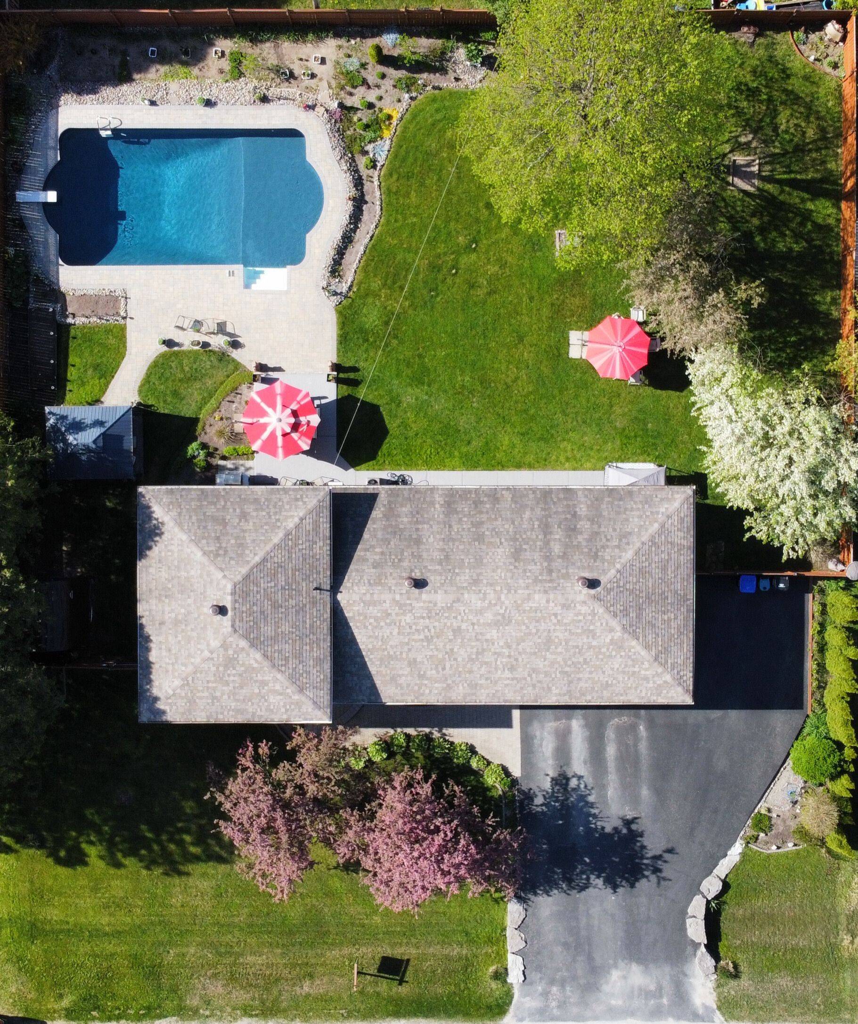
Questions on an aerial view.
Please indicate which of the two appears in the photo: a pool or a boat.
pool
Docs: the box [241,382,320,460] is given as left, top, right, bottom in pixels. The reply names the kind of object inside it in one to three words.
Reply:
umbrella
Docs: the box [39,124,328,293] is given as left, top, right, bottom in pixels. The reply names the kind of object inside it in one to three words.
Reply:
swimming pool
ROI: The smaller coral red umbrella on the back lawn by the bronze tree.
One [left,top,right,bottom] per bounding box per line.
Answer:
[585,315,648,378]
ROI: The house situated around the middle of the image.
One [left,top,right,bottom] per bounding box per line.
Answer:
[134,484,697,725]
